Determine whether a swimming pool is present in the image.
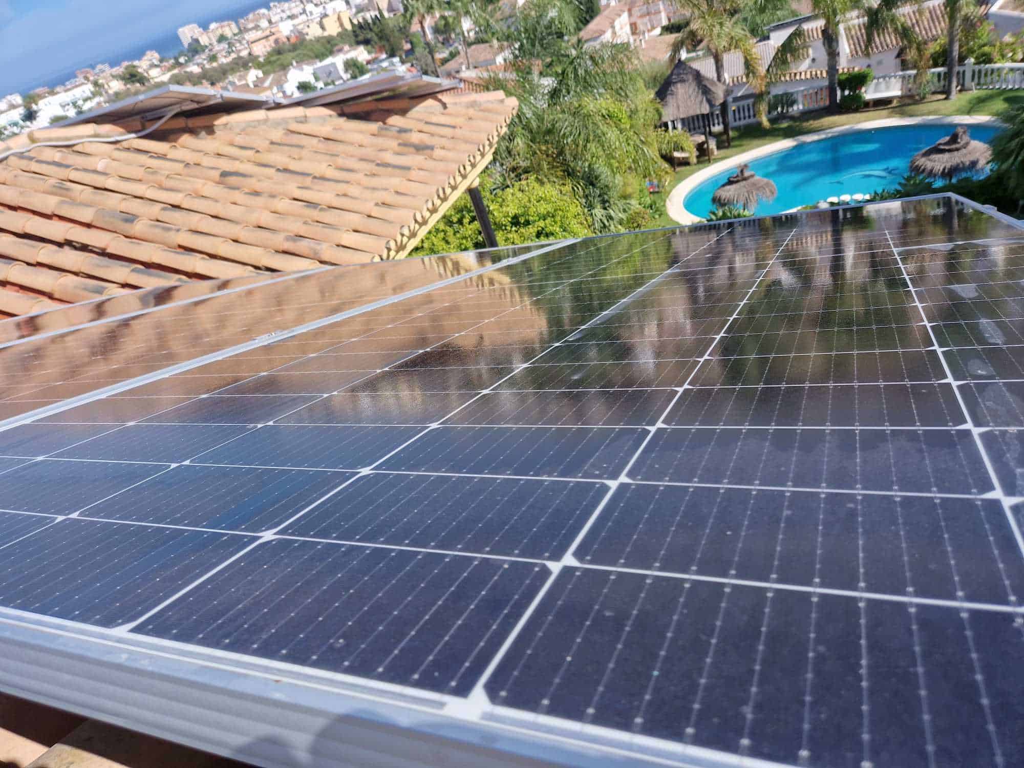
Yes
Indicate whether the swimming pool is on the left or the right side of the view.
right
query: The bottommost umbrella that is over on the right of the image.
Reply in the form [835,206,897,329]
[709,164,779,219]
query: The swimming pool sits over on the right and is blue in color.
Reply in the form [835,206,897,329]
[666,117,1003,225]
